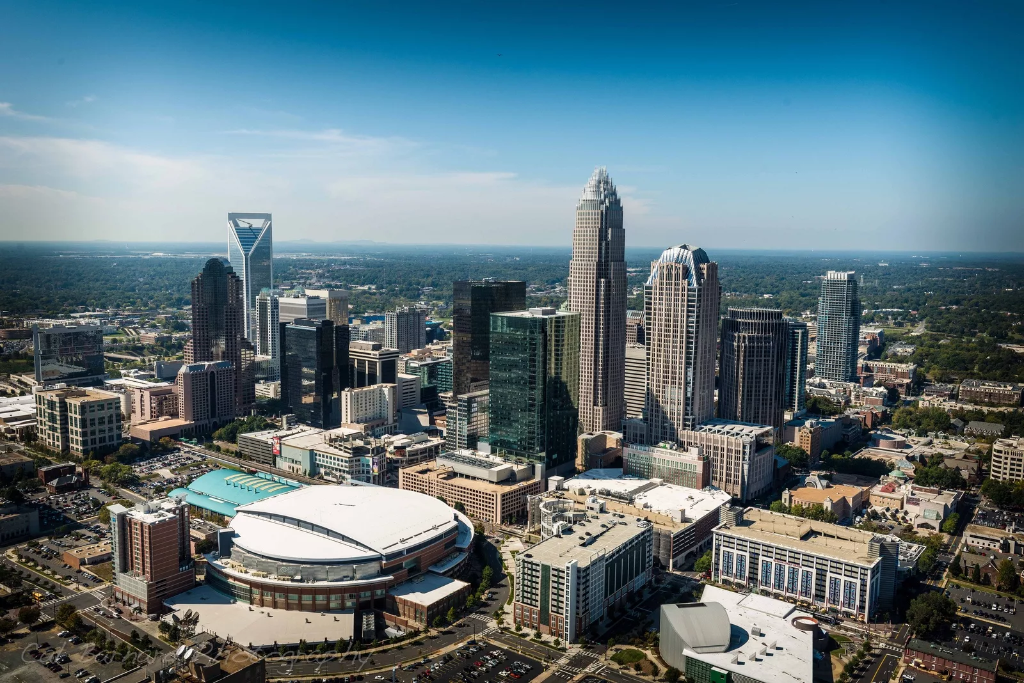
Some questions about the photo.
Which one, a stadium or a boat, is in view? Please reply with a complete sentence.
There is a stadium in the scene.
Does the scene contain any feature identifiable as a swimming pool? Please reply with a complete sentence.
No, this view has no swimming pool in it.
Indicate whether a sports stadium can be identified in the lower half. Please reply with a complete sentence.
Yes, the scene does show a sports stadium in the lower half.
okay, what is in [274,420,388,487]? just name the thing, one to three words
building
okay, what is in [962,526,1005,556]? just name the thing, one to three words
building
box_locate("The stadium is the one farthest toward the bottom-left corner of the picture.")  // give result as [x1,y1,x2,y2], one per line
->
[200,486,476,622]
